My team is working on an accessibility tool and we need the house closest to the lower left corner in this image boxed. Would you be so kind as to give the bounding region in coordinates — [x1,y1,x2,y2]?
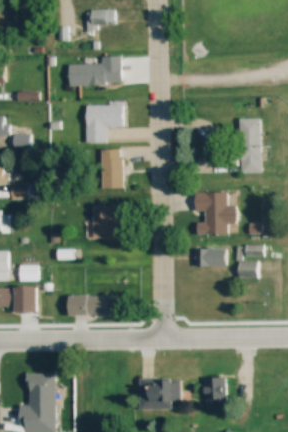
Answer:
[18,374,58,432]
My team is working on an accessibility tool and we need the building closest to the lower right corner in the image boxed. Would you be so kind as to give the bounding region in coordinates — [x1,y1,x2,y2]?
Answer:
[212,378,228,400]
